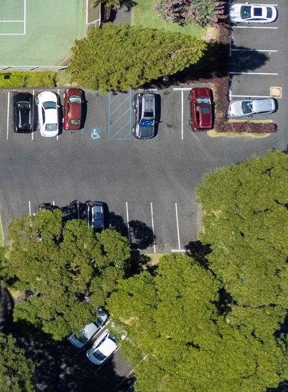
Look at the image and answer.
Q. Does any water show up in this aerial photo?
No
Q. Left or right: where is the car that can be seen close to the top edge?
right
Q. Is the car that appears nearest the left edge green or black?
black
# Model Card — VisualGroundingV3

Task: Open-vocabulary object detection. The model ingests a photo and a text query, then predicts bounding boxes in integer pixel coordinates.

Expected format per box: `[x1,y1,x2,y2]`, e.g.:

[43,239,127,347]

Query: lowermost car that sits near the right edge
[226,97,275,117]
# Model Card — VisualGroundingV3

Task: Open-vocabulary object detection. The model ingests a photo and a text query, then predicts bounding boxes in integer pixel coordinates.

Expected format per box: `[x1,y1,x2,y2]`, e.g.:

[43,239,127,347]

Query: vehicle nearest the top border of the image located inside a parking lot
[228,2,276,23]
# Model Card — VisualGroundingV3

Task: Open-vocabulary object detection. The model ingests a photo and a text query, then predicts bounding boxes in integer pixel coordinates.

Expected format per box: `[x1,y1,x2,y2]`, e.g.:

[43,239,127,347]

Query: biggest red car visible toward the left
[61,88,85,130]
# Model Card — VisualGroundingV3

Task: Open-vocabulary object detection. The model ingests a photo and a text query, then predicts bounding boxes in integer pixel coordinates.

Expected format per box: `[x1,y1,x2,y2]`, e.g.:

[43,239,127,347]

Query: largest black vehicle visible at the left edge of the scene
[11,93,35,134]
